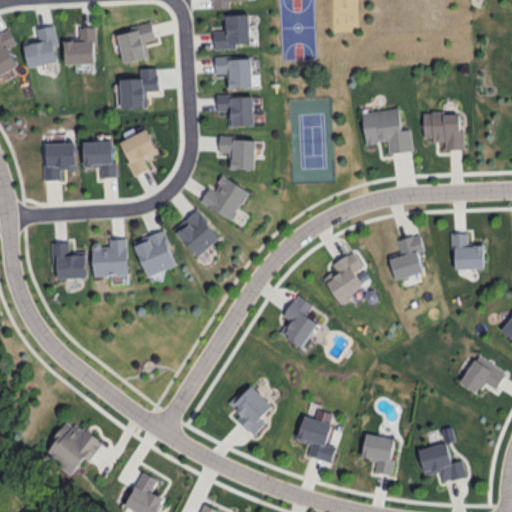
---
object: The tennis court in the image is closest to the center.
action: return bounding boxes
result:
[290,98,334,184]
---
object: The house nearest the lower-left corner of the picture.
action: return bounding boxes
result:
[50,424,104,472]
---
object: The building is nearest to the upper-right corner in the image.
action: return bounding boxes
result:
[422,110,464,152]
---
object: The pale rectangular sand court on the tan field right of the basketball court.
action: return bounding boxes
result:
[332,0,360,33]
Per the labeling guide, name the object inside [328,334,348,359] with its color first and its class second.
blue swimming pool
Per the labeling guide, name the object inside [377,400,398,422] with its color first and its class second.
blue swimming pool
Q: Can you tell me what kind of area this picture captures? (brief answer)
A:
residential area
